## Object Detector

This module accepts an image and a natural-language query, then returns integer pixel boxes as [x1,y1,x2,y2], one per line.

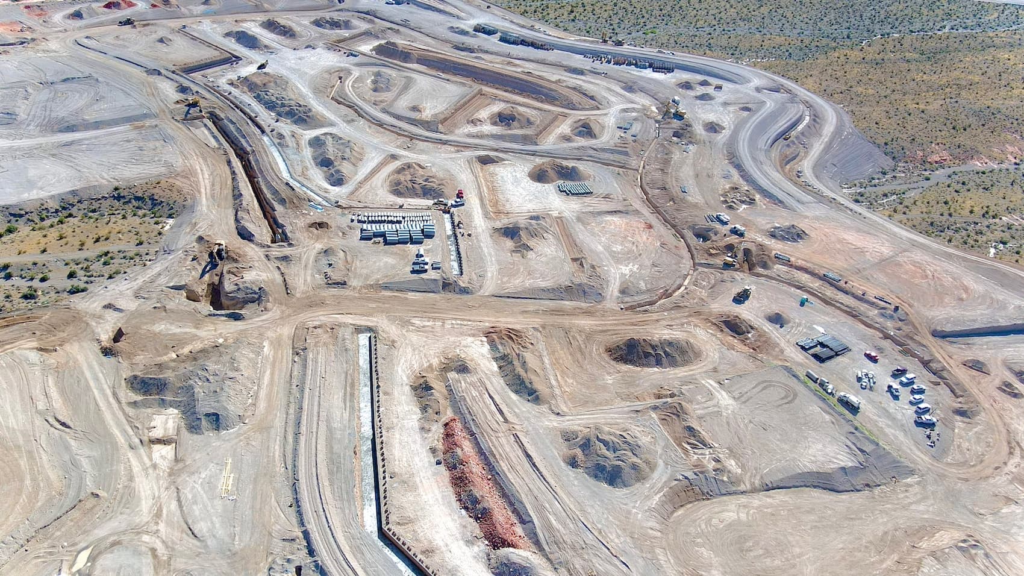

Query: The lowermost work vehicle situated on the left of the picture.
[209,239,226,268]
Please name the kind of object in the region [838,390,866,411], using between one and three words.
truck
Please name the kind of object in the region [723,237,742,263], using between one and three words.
work vehicle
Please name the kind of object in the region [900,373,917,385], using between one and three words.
vehicle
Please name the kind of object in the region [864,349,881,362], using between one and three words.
vehicle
